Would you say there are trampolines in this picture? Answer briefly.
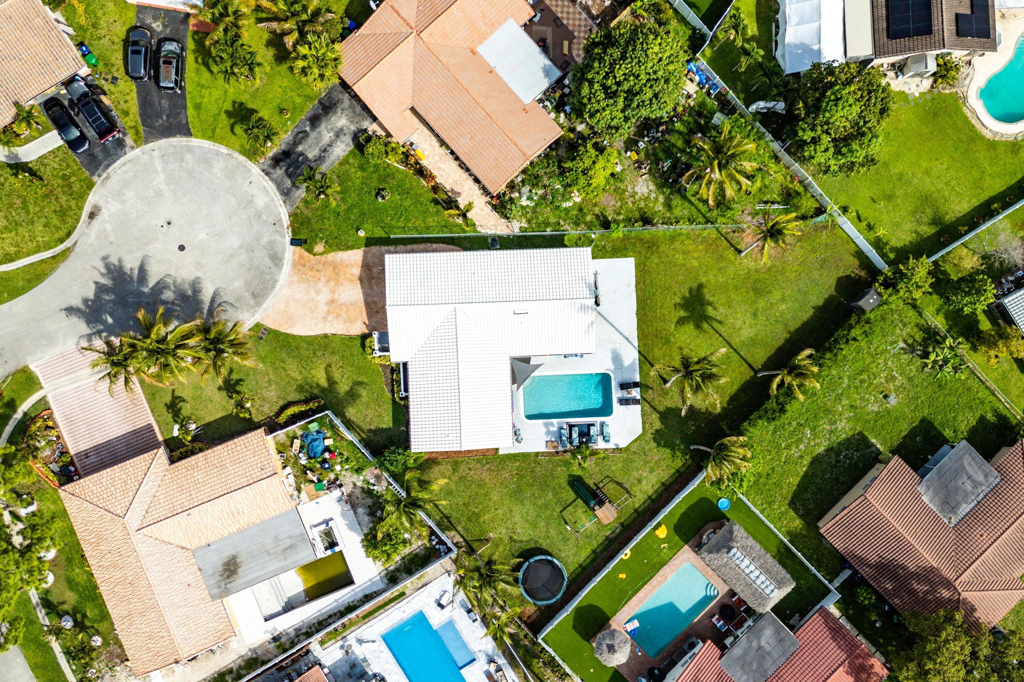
Yes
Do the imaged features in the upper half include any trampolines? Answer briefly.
No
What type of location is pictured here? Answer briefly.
residential area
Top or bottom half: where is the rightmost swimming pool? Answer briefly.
top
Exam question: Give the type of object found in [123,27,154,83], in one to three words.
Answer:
car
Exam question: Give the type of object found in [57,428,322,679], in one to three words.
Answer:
house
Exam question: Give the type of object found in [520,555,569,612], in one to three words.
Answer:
trampoline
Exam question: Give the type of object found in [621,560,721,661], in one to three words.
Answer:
swimming pool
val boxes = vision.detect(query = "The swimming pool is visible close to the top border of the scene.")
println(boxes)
[975,30,1024,126]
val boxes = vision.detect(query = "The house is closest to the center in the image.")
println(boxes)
[373,247,595,452]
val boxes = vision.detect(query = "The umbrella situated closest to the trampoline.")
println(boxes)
[590,624,633,667]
